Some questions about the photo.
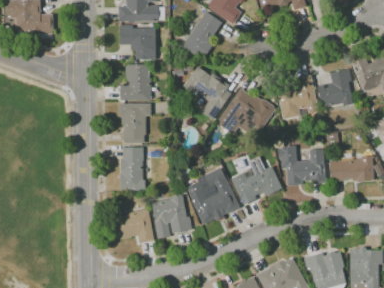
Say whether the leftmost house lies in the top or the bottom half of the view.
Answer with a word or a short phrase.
top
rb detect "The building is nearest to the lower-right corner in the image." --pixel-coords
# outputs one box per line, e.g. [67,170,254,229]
[351,250,383,288]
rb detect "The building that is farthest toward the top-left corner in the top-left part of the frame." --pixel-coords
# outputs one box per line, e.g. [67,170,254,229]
[4,0,52,34]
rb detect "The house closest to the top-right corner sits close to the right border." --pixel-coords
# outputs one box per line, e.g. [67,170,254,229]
[353,56,384,93]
